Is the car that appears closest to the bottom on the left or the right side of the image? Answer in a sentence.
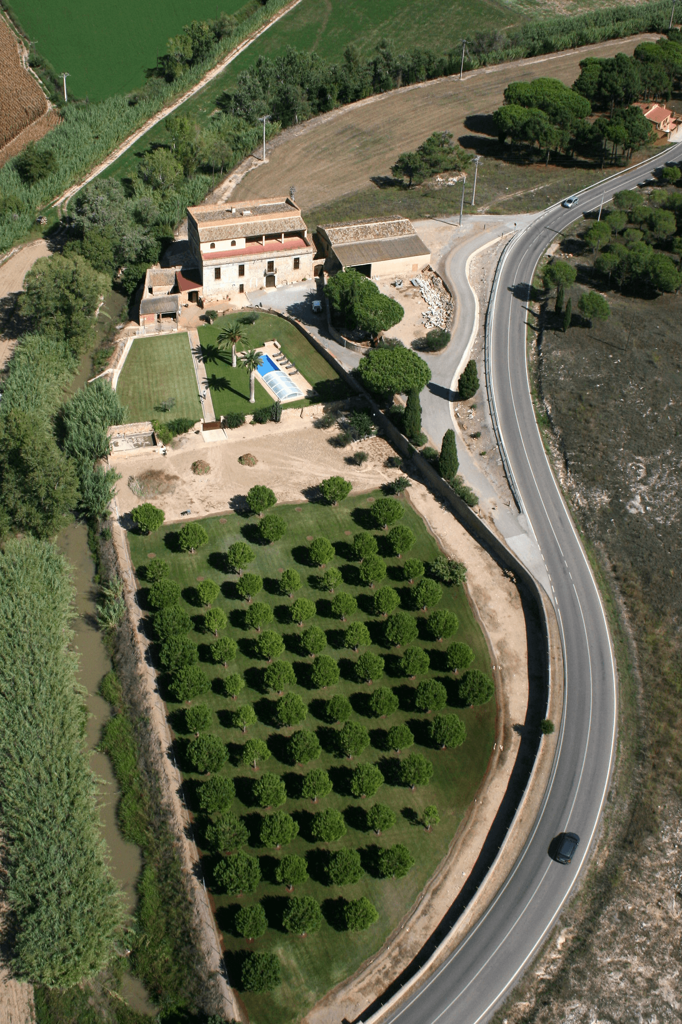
The car that appears closest to the bottom appears in the right half of the scene.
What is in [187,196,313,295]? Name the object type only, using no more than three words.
house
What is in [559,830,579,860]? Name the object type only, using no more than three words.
car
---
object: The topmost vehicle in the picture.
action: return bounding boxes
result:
[564,195,579,207]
